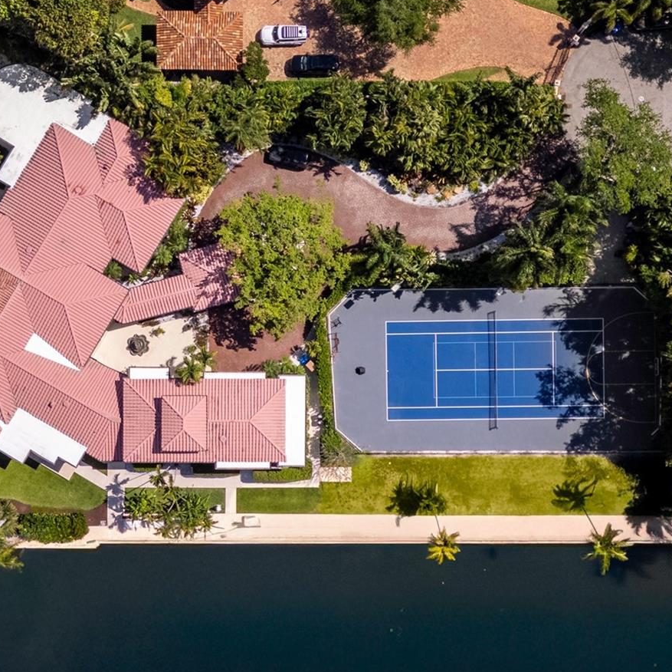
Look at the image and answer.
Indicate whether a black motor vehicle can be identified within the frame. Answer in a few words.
Yes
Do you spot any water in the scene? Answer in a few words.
Yes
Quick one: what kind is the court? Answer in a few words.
tennis court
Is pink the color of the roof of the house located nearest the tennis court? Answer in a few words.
Yes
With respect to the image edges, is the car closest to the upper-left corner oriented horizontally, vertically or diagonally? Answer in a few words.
horizontally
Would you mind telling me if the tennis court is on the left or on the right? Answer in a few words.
right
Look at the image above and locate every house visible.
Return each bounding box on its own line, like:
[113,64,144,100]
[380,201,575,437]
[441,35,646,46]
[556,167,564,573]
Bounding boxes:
[155,0,244,78]
[0,65,305,470]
